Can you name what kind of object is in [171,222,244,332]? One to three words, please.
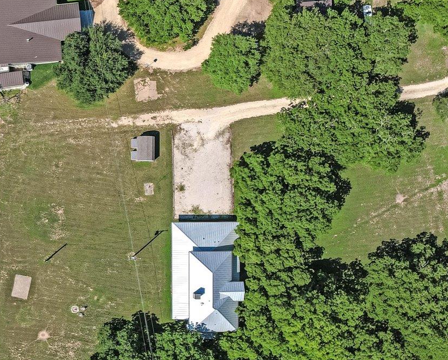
house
